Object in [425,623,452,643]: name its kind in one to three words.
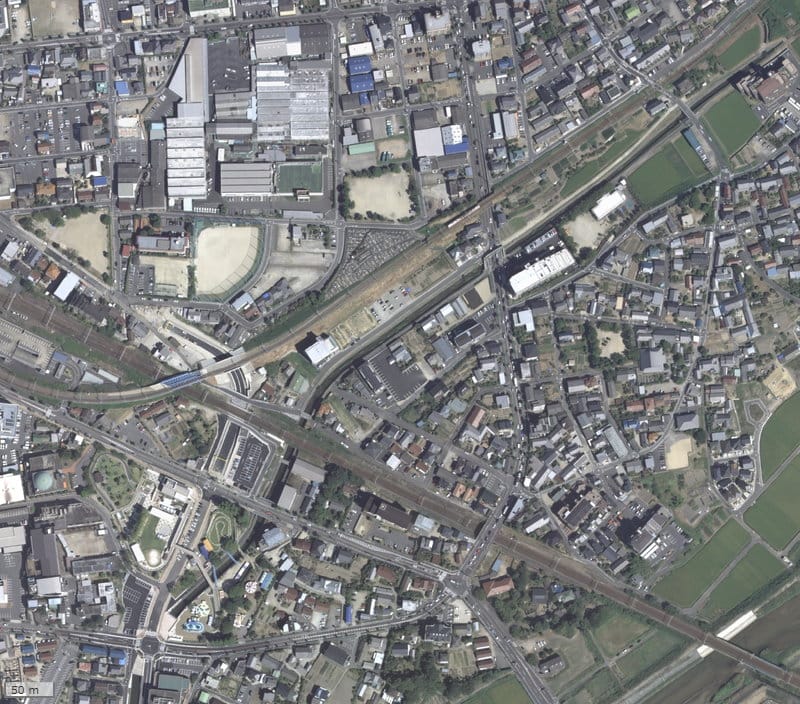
building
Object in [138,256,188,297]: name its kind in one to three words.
sports field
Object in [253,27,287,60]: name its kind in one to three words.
building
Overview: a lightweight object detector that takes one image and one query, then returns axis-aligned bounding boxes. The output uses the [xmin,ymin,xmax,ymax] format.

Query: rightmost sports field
[352,173,410,218]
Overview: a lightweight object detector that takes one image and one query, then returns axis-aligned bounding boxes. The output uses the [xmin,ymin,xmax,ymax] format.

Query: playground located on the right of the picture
[598,331,625,357]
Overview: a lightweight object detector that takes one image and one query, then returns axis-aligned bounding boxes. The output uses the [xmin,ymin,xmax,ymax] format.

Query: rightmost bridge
[705,630,800,690]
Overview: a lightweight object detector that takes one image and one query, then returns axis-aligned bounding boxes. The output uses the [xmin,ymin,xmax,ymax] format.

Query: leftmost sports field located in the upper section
[40,212,109,282]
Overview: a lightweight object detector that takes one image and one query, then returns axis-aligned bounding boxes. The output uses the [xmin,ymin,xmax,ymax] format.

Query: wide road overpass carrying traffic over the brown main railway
[452,492,516,582]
